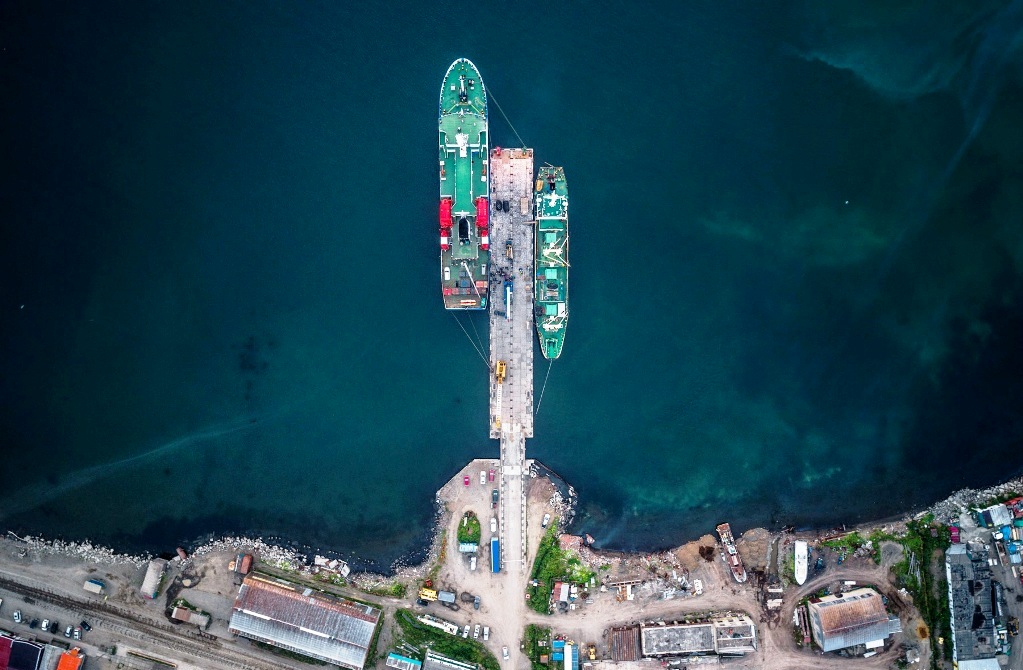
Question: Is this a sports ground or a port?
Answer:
port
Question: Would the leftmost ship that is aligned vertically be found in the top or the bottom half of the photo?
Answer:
top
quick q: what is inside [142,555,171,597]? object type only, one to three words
shed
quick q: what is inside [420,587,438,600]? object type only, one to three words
vehicle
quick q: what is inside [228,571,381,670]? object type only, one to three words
building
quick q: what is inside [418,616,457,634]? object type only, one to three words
boat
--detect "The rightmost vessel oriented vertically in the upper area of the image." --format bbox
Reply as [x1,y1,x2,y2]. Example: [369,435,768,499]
[535,162,570,358]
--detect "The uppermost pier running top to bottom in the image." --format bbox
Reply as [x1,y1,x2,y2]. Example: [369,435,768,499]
[489,149,533,438]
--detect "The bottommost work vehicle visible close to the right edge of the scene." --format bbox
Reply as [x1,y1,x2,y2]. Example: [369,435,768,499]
[1007,617,1020,638]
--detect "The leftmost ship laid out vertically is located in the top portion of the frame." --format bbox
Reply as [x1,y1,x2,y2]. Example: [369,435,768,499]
[439,58,490,310]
